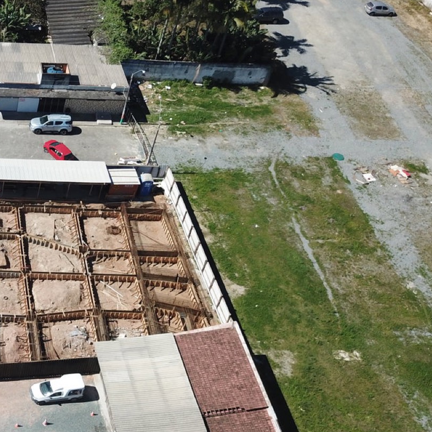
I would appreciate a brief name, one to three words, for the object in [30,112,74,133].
car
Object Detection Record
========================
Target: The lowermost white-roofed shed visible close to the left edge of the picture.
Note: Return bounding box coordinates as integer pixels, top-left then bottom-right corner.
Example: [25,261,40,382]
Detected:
[0,160,112,203]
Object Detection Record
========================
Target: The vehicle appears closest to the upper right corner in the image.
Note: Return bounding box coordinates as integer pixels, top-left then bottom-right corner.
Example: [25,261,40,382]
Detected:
[365,0,398,15]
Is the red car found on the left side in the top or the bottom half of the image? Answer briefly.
top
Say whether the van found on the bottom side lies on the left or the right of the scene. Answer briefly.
left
